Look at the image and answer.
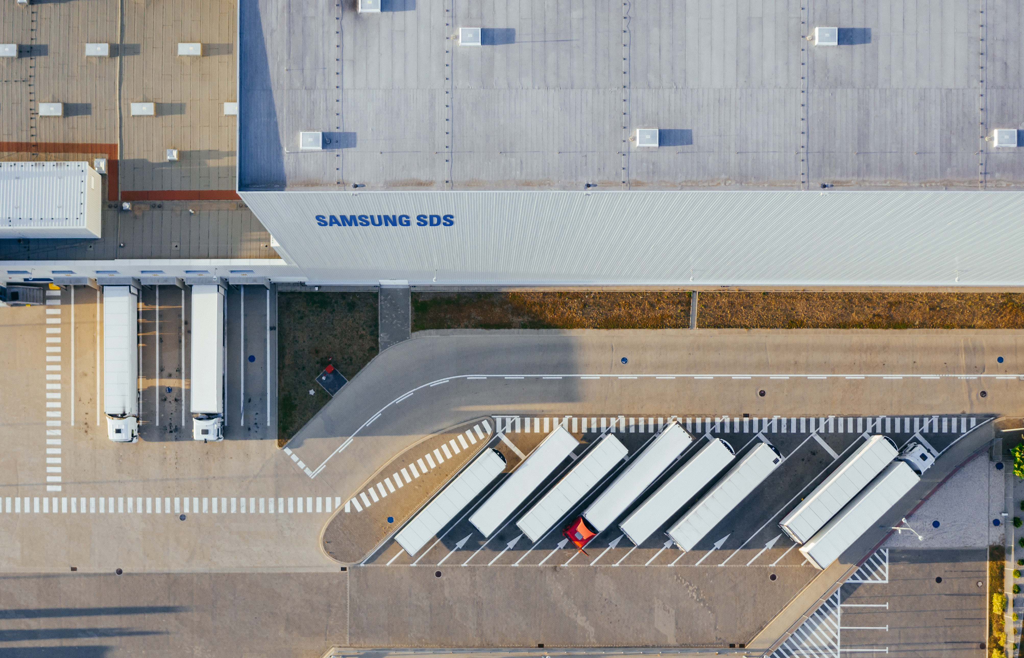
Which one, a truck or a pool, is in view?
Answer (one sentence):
The one in the frame is a truck.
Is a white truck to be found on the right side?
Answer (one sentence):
Yes, there is a white truck on the right side.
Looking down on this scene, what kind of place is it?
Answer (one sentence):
The area seen from above is an industrial area.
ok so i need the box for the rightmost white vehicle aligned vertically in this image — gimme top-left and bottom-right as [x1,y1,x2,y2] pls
[191,285,224,444]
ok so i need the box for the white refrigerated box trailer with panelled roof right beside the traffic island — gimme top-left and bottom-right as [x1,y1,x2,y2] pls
[394,448,506,556]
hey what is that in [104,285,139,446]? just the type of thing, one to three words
truck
